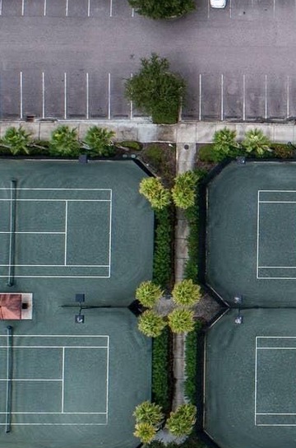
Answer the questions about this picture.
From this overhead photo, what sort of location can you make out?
sports ground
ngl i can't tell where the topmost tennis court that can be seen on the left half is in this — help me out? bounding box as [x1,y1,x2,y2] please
[0,159,153,306]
